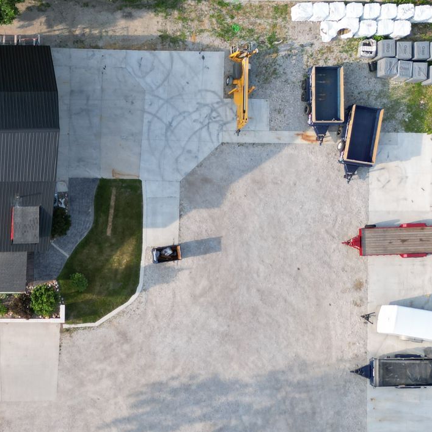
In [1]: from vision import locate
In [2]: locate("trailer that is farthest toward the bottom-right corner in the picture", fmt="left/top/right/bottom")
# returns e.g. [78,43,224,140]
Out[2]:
[352,354,432,390]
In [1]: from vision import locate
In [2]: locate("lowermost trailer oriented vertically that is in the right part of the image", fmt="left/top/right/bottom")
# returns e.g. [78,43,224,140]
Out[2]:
[335,105,382,182]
